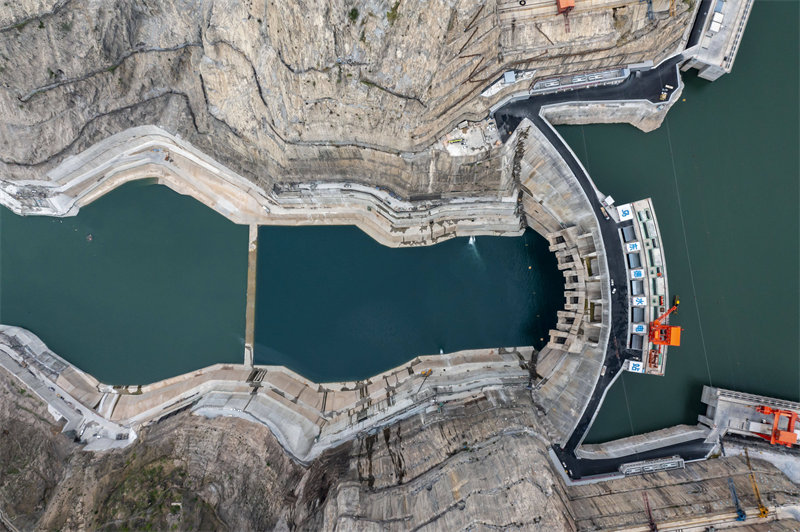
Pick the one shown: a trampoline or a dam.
dam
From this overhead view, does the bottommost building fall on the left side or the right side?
right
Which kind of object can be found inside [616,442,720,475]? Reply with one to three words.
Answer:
building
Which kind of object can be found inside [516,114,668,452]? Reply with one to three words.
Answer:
dam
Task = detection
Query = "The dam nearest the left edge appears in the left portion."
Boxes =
[244,219,259,368]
